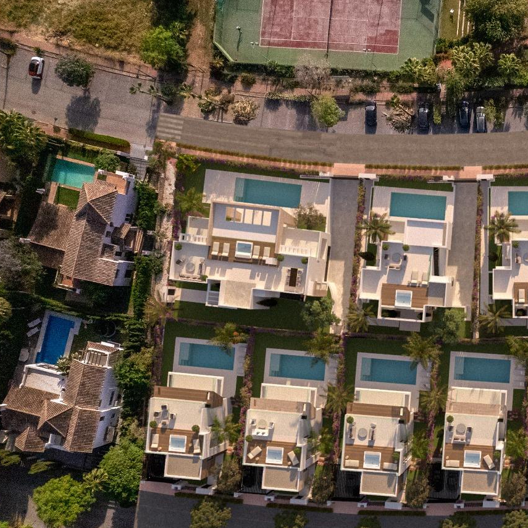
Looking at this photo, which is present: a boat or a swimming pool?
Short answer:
swimming pool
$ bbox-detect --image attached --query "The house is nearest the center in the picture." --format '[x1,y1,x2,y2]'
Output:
[169,201,343,308]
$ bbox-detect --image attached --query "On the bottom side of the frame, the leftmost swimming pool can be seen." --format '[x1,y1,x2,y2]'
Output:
[30,310,82,368]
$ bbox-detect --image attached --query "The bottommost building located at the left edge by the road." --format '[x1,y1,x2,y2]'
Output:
[0,342,126,454]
